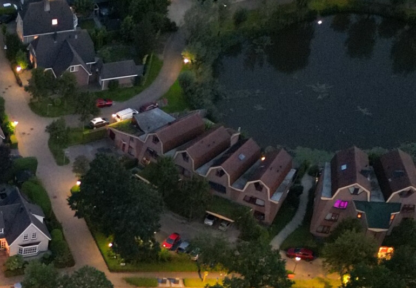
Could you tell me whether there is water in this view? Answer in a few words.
Yes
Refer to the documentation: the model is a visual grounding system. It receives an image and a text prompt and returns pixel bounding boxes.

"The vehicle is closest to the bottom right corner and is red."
[287,248,315,261]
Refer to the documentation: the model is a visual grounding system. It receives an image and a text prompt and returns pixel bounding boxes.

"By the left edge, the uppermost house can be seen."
[9,0,76,48]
